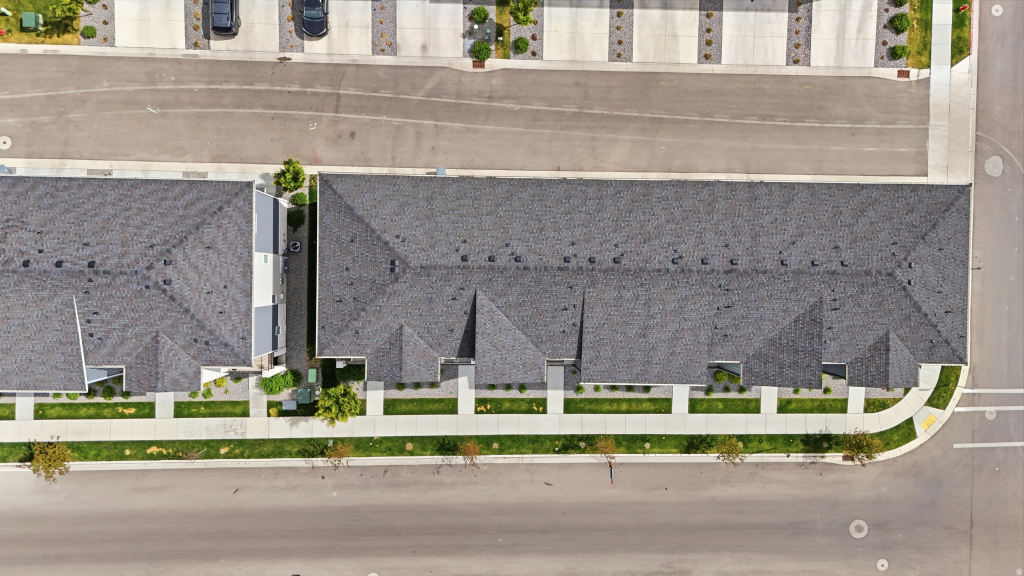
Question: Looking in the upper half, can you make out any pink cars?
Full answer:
No, looking in the upper half, there is no pink car.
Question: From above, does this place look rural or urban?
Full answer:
This place is urban.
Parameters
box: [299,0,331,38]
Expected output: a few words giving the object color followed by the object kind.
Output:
black car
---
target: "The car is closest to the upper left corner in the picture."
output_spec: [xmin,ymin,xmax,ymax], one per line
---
[209,0,241,36]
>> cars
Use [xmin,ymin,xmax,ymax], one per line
[209,0,241,36]
[299,0,331,38]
